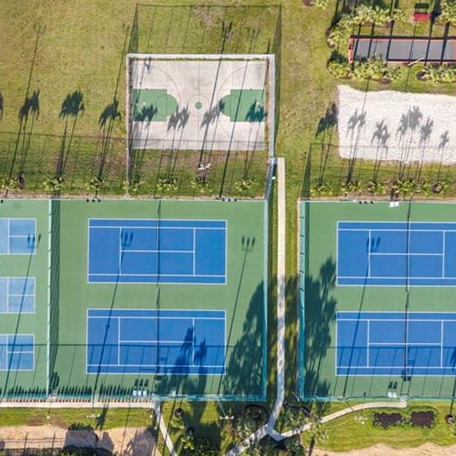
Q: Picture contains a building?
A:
No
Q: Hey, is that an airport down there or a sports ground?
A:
sports ground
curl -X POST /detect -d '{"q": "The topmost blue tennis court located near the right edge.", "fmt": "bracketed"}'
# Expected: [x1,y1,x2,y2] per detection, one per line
[337,216,456,292]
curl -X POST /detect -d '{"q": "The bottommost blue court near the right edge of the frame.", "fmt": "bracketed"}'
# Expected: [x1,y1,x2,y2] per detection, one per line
[336,306,456,383]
